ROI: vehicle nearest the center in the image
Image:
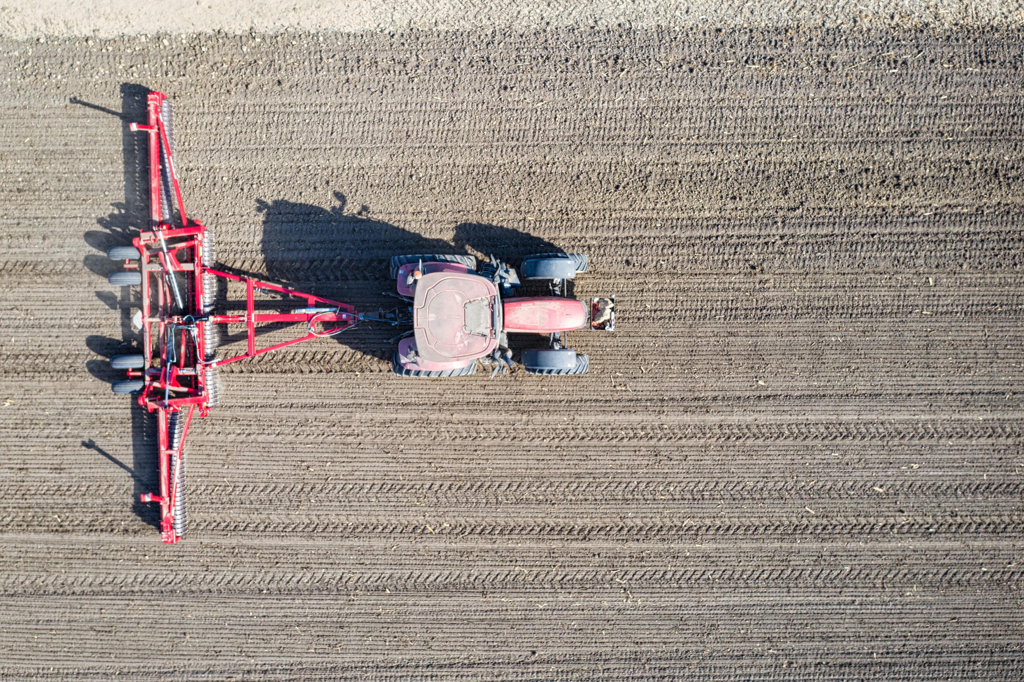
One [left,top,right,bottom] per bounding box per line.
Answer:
[364,250,614,380]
